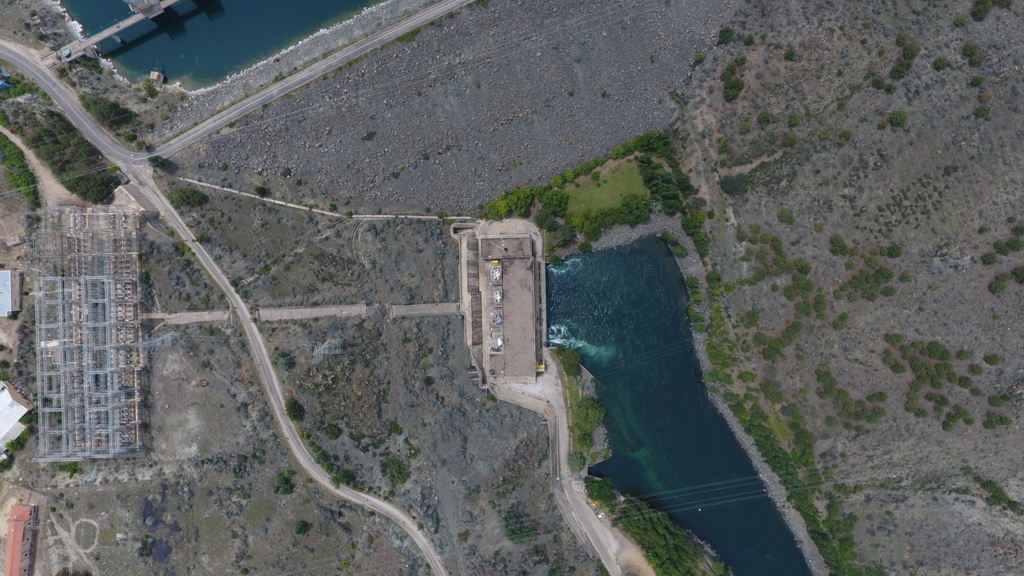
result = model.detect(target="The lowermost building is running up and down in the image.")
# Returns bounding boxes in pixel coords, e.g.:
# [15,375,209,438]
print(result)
[4,502,38,576]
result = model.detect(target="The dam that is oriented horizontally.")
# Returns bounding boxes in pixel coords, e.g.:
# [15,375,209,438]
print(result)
[150,0,736,215]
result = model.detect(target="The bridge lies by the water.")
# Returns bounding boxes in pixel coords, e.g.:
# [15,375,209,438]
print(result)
[41,0,189,69]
